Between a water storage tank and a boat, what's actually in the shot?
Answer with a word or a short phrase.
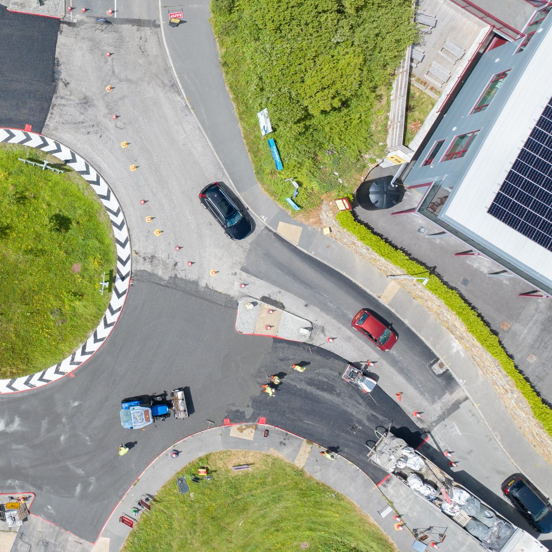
water storage tank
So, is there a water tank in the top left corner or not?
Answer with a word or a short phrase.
No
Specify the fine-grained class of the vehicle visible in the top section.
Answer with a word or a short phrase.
automobile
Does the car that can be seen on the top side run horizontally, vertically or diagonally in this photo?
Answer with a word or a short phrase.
diagonally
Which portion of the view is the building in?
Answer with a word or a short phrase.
top right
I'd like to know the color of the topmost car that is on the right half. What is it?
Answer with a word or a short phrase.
red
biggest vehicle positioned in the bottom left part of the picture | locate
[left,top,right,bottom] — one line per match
[120,396,168,430]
